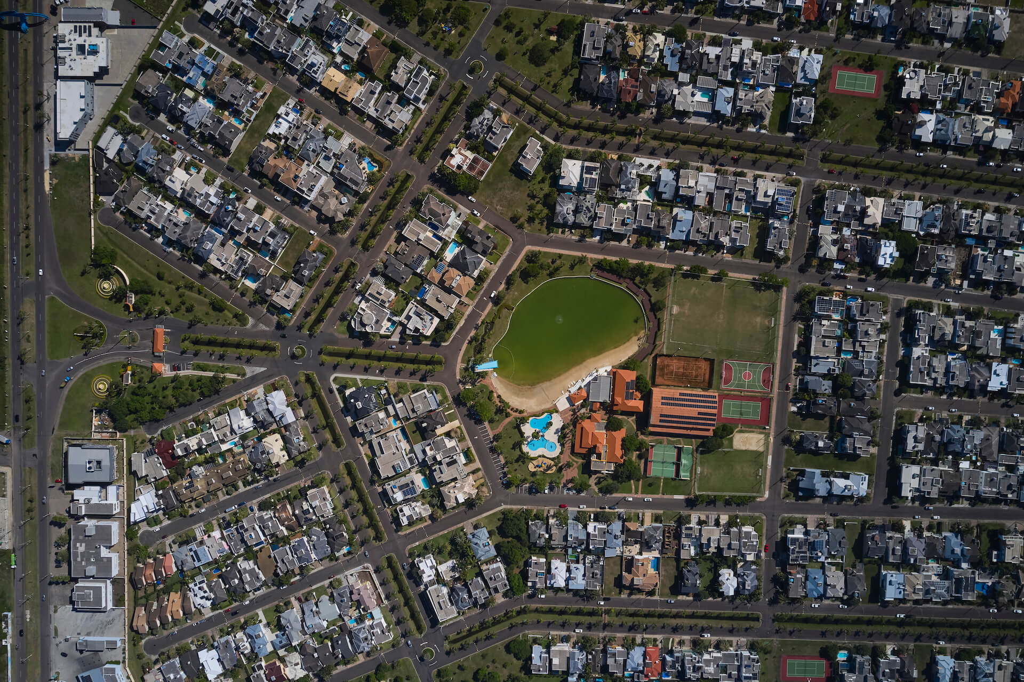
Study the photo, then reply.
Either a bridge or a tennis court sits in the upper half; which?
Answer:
tennis court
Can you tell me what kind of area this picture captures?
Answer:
residential area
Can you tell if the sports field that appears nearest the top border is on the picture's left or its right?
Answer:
right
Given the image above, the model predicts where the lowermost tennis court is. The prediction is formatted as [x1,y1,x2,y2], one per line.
[782,655,831,682]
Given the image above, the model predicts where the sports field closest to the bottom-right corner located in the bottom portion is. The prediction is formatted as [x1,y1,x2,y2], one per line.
[698,450,764,493]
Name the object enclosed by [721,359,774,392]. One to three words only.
sports court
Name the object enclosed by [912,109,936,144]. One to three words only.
house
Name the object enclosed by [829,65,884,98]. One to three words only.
tennis court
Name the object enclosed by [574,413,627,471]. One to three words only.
building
